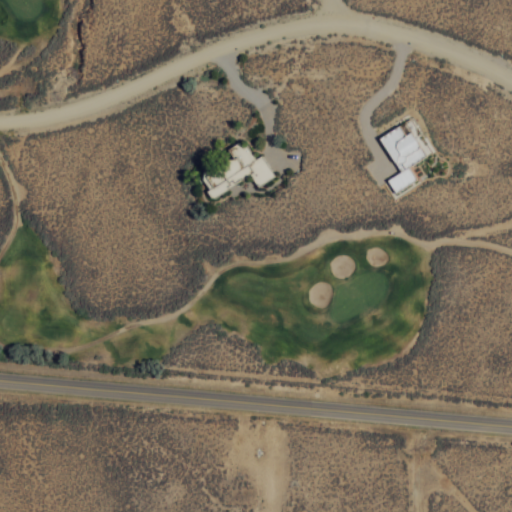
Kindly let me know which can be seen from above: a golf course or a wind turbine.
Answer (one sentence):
Looking from above, you can make out a golf course.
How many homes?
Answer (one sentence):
Altogether the scene contains 2 homes.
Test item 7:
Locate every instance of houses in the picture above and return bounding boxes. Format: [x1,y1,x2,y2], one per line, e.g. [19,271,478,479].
[202,143,276,200]
[380,124,426,194]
